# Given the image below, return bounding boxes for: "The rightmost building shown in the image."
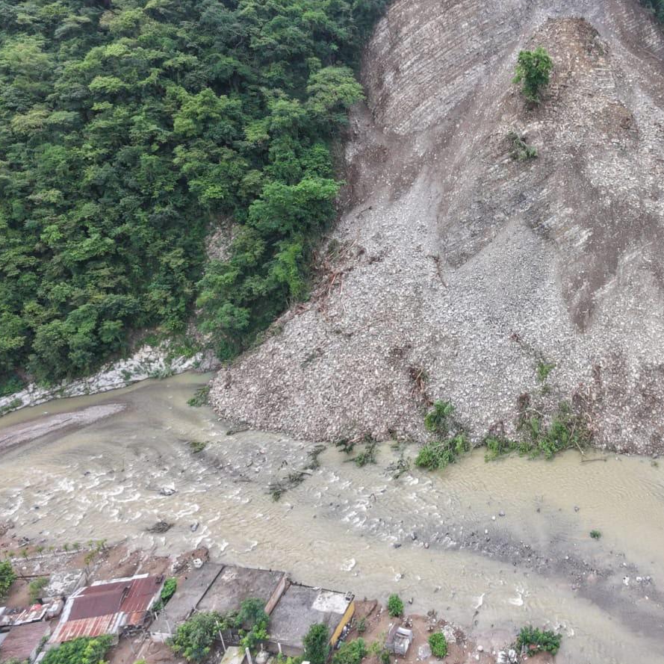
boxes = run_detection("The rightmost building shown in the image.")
[271,582,355,658]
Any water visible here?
Yes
